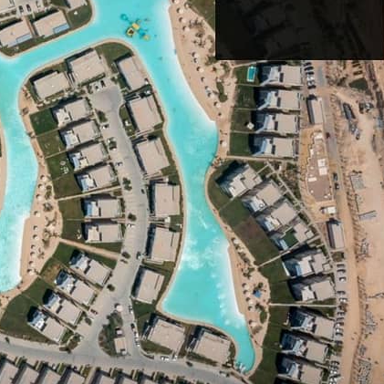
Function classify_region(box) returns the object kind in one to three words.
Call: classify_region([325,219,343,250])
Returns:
building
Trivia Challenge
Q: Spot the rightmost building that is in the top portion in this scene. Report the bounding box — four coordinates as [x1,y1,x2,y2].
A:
[305,99,323,125]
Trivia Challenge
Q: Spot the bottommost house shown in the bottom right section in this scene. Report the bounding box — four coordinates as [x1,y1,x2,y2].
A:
[278,359,323,384]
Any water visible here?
Yes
